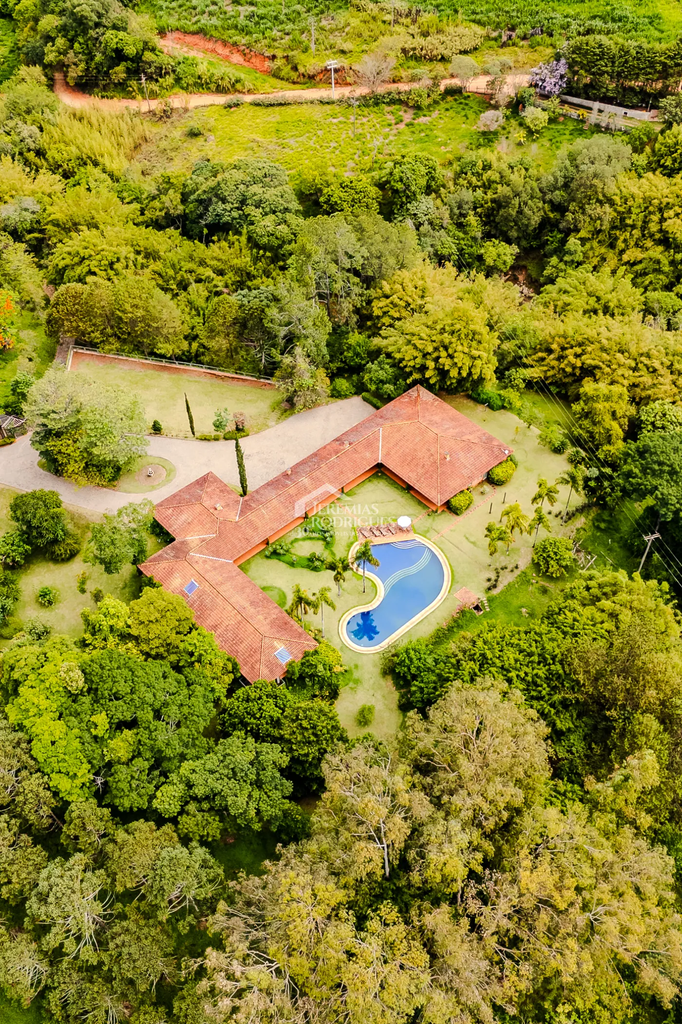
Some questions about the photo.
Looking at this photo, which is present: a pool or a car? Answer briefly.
pool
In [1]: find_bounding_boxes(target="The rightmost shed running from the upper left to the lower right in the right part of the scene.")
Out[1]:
[454,586,485,616]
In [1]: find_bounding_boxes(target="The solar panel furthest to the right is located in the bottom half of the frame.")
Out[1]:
[271,643,293,666]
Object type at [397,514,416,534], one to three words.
umbrella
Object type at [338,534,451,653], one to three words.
swimming pool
